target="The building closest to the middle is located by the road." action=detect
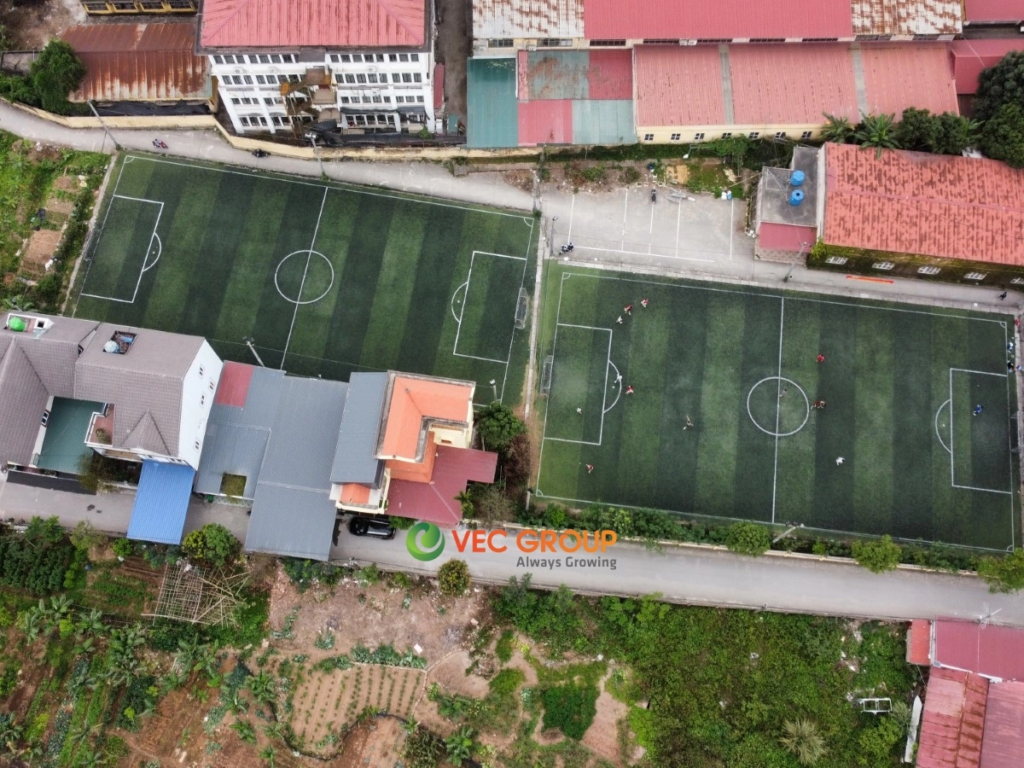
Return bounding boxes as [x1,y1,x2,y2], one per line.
[330,370,497,527]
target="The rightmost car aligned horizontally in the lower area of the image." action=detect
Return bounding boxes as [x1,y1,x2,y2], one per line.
[348,515,397,540]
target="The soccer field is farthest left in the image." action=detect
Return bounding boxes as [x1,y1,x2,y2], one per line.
[70,153,540,417]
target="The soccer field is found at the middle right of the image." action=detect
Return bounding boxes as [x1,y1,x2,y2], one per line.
[527,263,1021,555]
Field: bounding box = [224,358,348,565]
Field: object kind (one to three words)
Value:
building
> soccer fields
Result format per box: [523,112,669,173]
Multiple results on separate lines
[527,263,1021,555]
[70,153,540,417]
